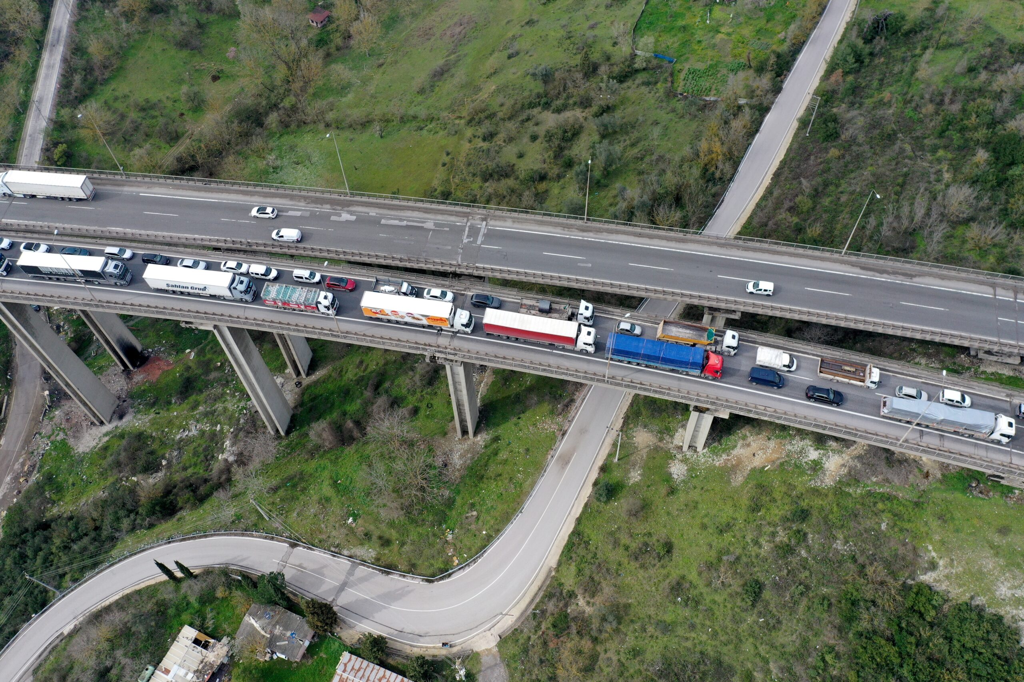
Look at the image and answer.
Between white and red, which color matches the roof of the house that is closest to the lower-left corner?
white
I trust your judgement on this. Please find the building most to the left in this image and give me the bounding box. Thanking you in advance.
[144,626,219,682]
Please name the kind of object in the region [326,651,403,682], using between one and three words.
shed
